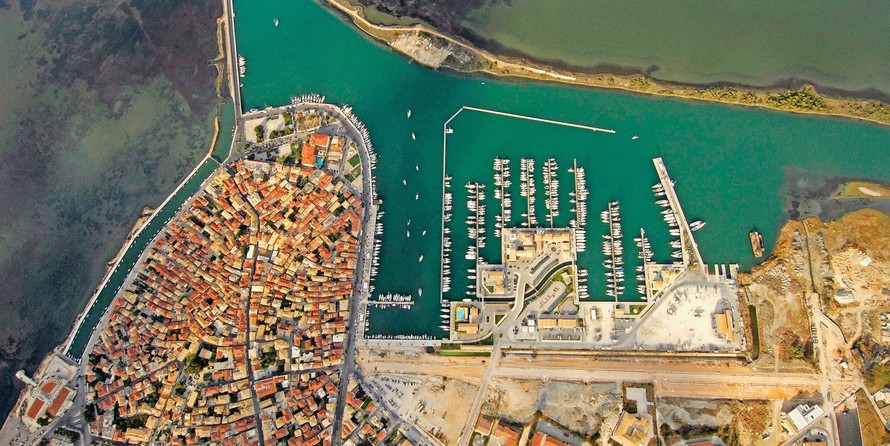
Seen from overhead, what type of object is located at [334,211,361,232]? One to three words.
building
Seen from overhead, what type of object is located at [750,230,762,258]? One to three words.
ship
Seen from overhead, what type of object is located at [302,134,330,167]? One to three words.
building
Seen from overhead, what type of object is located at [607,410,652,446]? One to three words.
house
